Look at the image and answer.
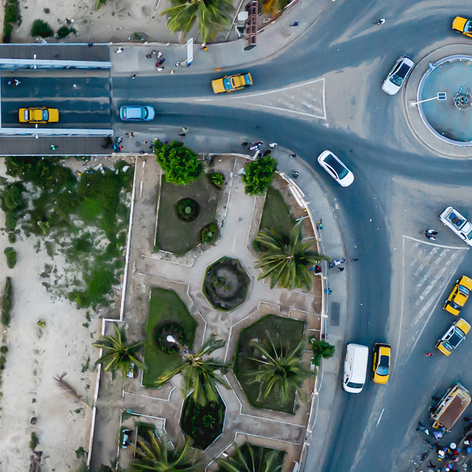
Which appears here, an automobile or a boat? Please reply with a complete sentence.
This aerial view contains an automobile.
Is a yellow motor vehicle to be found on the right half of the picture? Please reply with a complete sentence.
Yes, a yellow motor vehicle shows up on the right half of the picture.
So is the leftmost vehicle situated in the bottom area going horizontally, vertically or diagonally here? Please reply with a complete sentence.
The leftmost vehicle situated in the bottom area has been laid out vertically relative to the frame.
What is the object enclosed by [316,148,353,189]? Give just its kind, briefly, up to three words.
car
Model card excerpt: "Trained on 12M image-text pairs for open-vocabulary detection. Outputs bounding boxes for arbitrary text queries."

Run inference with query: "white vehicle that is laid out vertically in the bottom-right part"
[345,343,366,392]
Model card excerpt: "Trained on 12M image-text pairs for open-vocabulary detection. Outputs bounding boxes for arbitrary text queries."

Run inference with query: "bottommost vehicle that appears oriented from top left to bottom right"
[437,205,472,246]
